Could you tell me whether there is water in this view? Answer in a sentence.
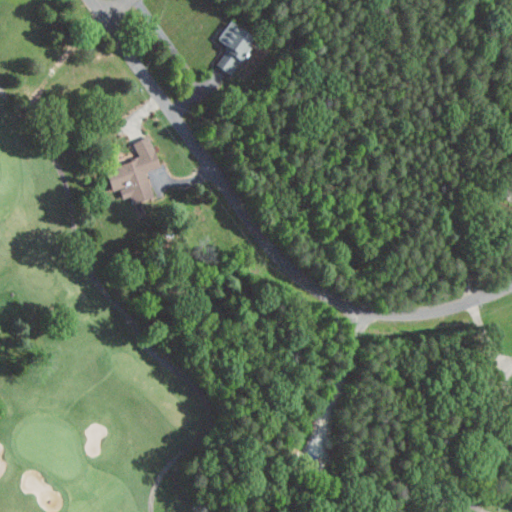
No, the picture contains no water.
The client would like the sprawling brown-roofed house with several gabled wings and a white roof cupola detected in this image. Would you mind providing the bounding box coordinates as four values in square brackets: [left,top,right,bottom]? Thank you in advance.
[106,138,160,206]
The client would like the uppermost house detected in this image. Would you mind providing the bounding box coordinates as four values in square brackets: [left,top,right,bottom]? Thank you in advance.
[220,20,254,60]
